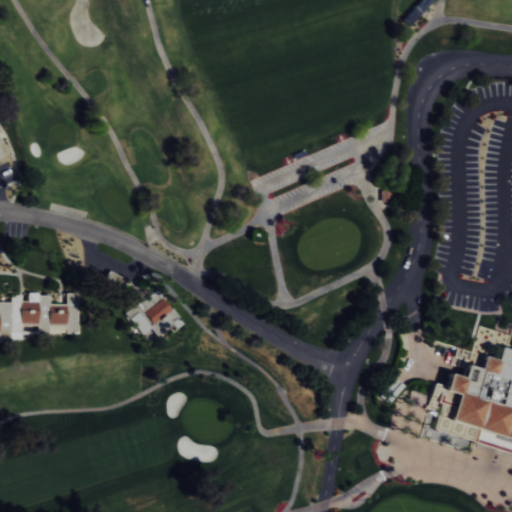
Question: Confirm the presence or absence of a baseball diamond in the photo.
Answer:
No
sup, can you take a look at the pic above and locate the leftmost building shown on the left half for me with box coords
[0,293,80,342]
